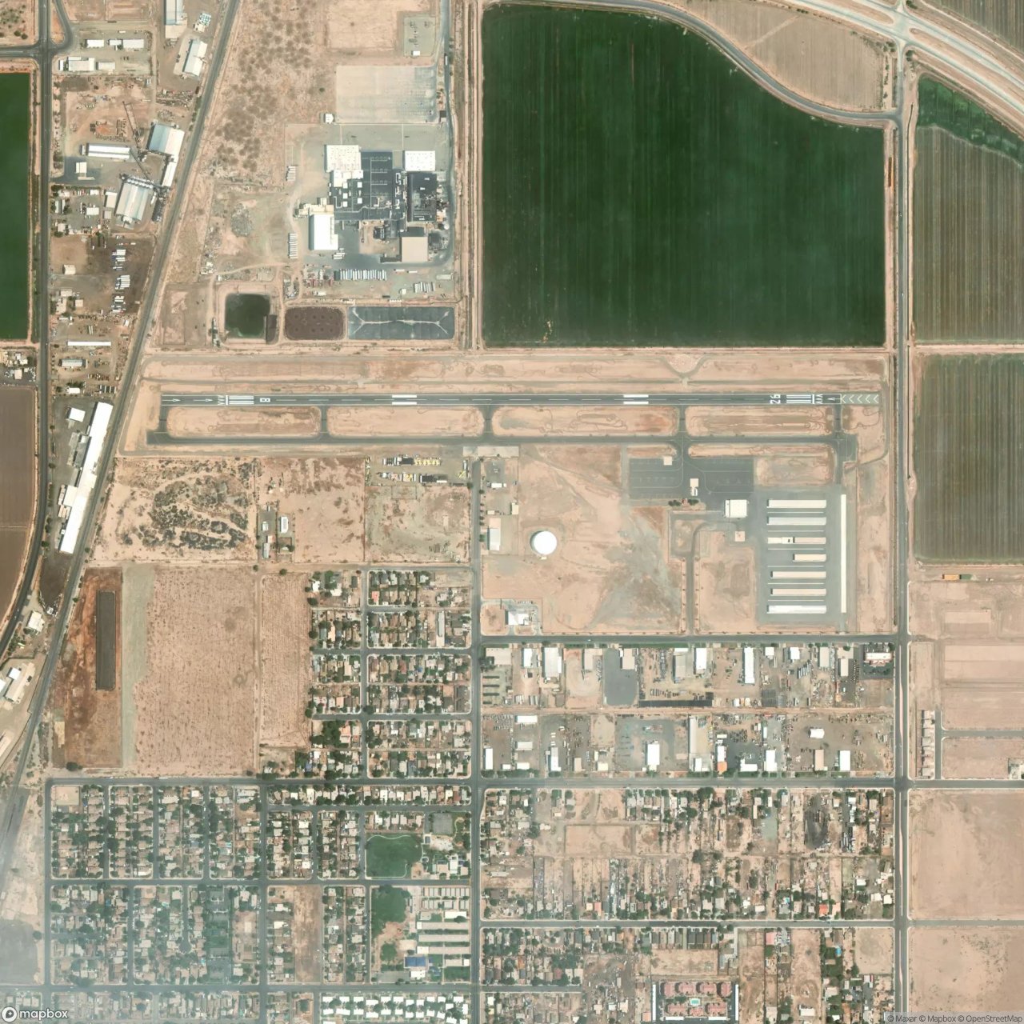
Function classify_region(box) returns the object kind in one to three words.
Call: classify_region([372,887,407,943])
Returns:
sports field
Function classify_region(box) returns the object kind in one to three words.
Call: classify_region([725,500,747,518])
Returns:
hangar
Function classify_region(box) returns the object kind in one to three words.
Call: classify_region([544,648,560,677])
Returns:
building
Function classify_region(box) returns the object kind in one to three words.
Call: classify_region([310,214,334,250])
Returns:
building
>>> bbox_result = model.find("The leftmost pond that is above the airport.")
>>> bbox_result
[222,290,273,343]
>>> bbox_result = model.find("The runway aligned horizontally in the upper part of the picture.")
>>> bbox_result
[162,393,880,407]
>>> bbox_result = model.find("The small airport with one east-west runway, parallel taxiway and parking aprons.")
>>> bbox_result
[147,393,880,622]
